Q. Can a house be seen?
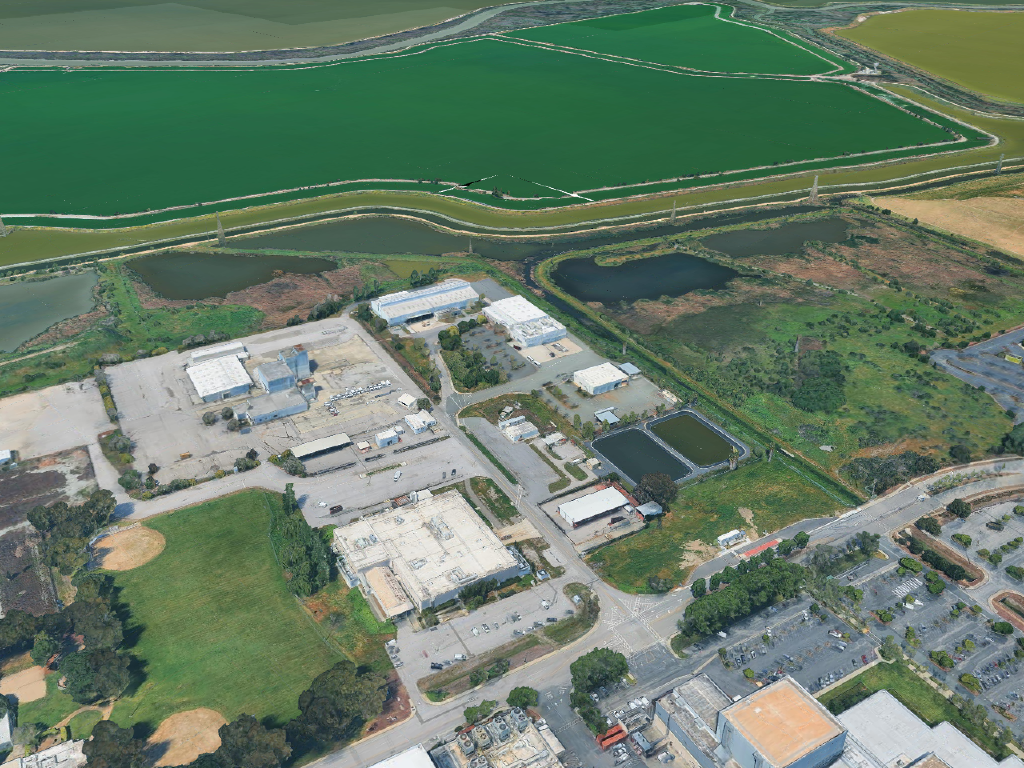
Yes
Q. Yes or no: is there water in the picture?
Yes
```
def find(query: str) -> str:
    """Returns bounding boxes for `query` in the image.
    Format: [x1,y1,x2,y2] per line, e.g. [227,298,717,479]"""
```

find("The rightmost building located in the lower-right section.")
[835,689,1024,768]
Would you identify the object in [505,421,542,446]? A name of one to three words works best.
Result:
shed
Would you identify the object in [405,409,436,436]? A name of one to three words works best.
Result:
house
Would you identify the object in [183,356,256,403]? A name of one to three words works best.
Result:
building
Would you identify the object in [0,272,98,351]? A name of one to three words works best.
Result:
pond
